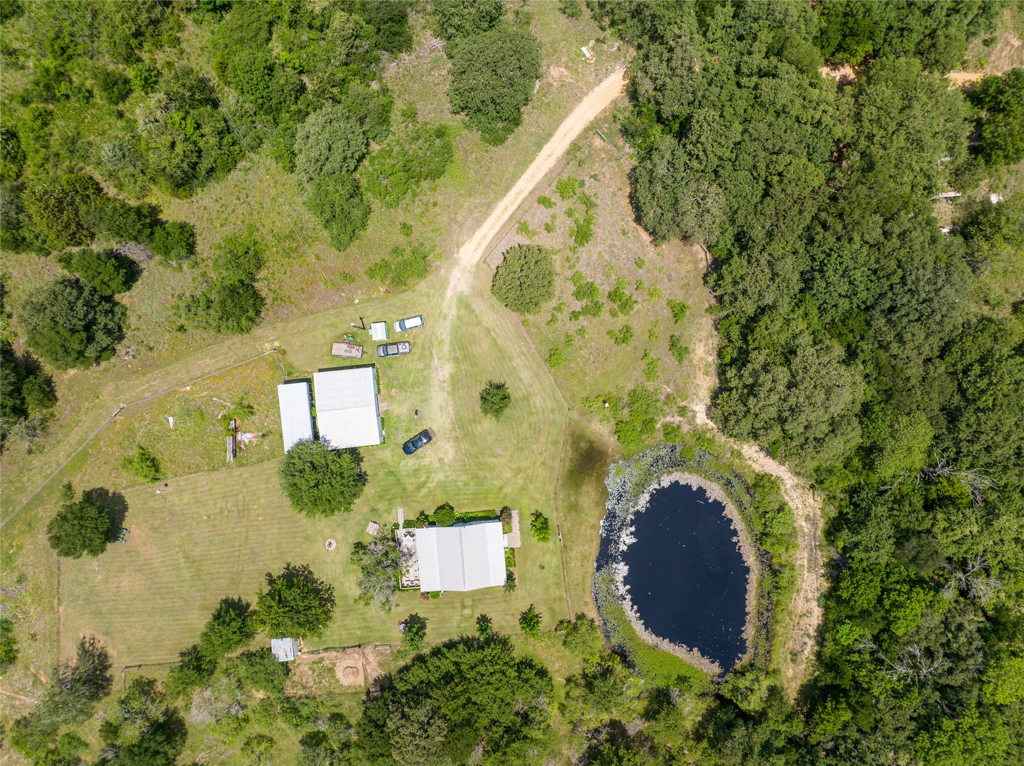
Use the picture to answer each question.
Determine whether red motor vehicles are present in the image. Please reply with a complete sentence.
No, I can see no red motor vehicle in this picture.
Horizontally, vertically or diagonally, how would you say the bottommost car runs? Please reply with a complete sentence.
The bottommost car has been laid out diagonally relative to the frame.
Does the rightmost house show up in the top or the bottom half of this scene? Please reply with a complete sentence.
The rightmost house is in the bottom half of the image.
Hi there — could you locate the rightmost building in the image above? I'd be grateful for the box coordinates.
[415,521,506,592]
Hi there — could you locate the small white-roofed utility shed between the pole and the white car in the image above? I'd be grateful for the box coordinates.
[371,322,390,341]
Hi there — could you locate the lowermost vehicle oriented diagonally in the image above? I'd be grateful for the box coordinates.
[403,427,438,455]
